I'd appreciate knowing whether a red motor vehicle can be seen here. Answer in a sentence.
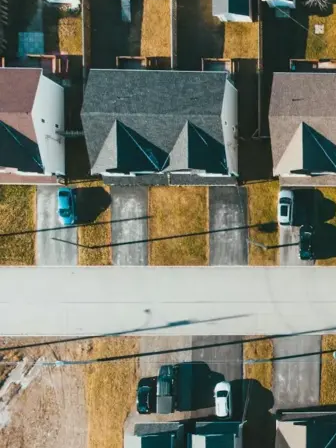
No, no red motor vehicle is visible in the scene.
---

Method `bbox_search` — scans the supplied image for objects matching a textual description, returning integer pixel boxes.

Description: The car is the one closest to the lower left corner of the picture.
[137,382,155,416]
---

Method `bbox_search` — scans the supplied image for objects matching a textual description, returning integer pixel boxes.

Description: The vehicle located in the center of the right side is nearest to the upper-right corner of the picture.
[277,190,295,226]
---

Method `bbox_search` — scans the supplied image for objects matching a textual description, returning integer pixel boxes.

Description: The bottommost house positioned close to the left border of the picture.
[0,69,61,184]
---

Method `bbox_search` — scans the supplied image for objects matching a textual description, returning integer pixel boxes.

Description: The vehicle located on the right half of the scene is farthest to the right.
[297,225,315,260]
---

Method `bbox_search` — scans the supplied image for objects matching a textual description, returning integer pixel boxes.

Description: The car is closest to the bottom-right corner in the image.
[213,381,232,419]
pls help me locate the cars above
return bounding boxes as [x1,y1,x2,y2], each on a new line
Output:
[137,382,155,416]
[56,188,77,224]
[277,190,295,226]
[297,225,315,260]
[213,381,232,419]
